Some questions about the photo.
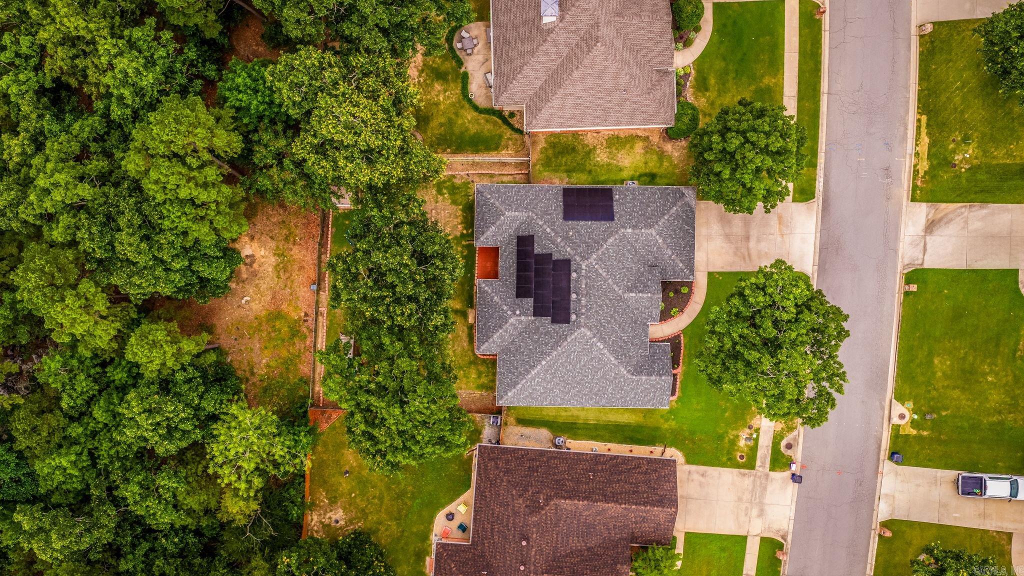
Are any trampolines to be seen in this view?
No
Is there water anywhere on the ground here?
No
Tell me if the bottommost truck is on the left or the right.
right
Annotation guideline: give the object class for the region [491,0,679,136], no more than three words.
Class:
house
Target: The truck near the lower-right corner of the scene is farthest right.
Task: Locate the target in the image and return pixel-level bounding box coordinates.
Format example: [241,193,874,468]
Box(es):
[952,470,1024,502]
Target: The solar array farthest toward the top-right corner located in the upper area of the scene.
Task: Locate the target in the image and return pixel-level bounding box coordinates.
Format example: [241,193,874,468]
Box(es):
[563,188,614,221]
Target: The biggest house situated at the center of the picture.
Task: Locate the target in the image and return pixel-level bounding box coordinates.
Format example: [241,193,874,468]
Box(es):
[474,183,696,408]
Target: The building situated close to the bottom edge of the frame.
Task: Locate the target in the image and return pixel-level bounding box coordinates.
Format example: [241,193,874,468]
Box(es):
[431,439,678,576]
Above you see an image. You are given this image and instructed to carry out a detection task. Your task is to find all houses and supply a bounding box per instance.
[431,439,678,576]
[491,0,679,136]
[474,183,696,408]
